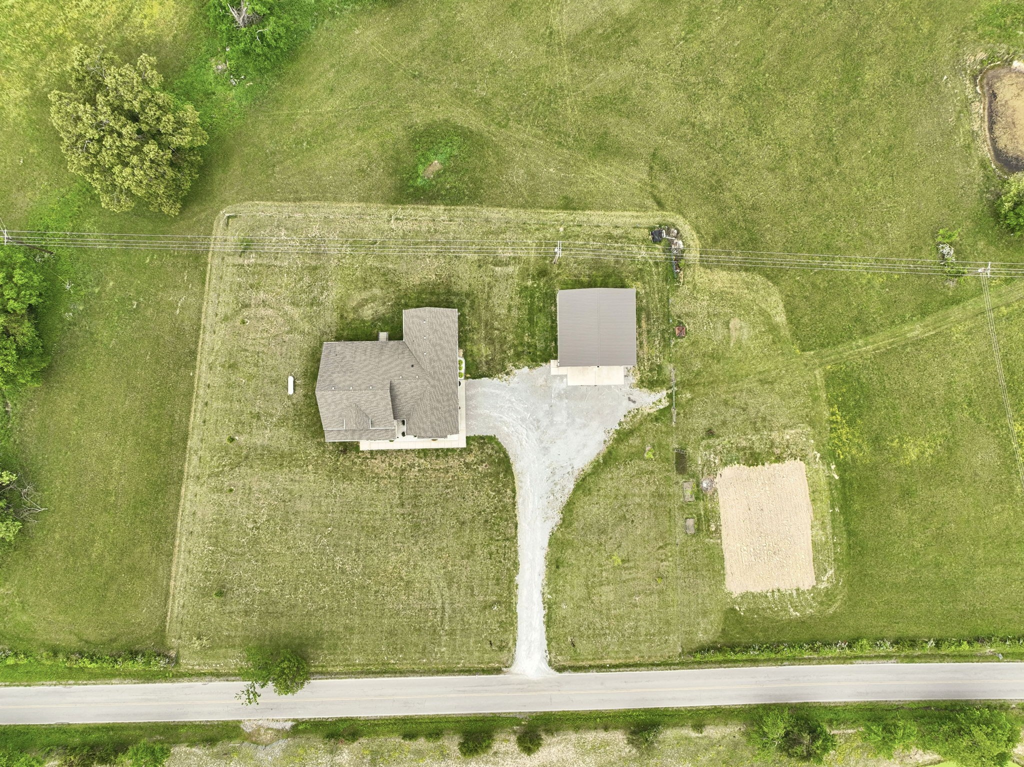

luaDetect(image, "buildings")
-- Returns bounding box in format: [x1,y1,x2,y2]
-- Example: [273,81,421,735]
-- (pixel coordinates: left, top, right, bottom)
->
[558,287,637,368]
[315,307,460,442]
